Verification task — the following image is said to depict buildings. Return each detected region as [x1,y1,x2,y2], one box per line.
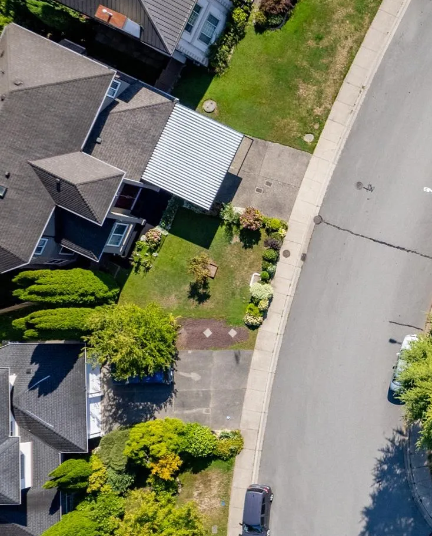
[56,0,256,72]
[0,22,182,267]
[0,342,108,536]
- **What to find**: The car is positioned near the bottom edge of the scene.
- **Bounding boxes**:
[240,481,276,536]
